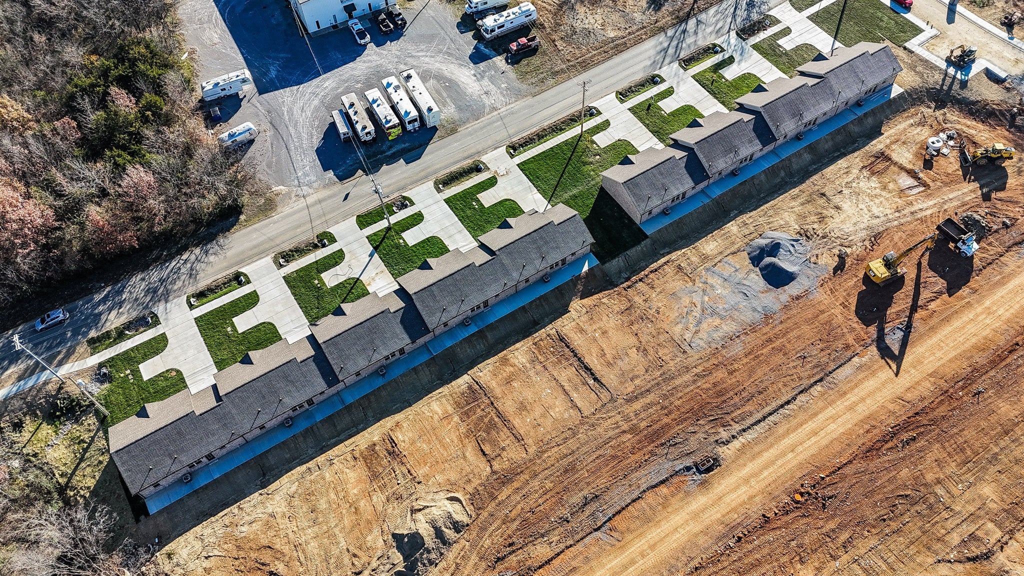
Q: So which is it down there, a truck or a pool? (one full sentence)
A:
The image shows a truck.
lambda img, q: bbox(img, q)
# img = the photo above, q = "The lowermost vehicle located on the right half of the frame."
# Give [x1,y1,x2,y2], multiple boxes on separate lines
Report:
[862,242,944,293]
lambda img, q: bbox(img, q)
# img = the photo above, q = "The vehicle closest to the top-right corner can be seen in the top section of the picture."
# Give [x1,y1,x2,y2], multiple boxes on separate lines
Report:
[1005,10,1023,27]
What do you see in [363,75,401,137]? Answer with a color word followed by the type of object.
white camper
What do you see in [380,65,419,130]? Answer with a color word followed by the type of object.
white trailer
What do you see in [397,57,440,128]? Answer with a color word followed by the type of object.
white trailer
